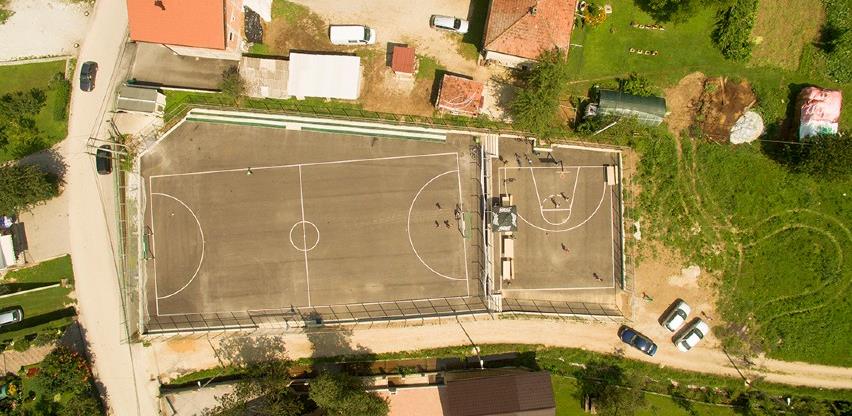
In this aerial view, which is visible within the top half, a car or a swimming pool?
car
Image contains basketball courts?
Yes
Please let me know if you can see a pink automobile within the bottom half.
No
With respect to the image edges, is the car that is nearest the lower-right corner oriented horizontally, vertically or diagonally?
diagonally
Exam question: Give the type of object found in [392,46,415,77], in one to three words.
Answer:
shed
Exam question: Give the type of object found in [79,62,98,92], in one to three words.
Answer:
car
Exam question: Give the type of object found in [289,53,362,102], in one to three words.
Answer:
shed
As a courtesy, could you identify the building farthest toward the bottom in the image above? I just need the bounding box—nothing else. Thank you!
[444,366,555,416]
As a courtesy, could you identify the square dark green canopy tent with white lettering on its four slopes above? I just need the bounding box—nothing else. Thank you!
[490,206,516,231]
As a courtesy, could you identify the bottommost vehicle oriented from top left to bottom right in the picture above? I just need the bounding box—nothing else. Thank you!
[619,326,656,355]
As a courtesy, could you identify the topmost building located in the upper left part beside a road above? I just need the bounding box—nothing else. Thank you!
[127,0,246,60]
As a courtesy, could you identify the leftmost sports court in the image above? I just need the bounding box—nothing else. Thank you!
[140,117,488,332]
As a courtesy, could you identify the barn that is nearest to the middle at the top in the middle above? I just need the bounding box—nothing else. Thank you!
[438,74,483,116]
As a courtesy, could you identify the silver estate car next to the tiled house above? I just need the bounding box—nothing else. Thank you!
[430,15,468,34]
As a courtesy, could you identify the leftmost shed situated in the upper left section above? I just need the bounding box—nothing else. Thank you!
[116,87,166,111]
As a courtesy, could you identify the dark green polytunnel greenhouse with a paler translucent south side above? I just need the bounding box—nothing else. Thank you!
[599,87,670,126]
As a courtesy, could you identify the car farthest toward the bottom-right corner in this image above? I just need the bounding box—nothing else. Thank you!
[675,319,708,354]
